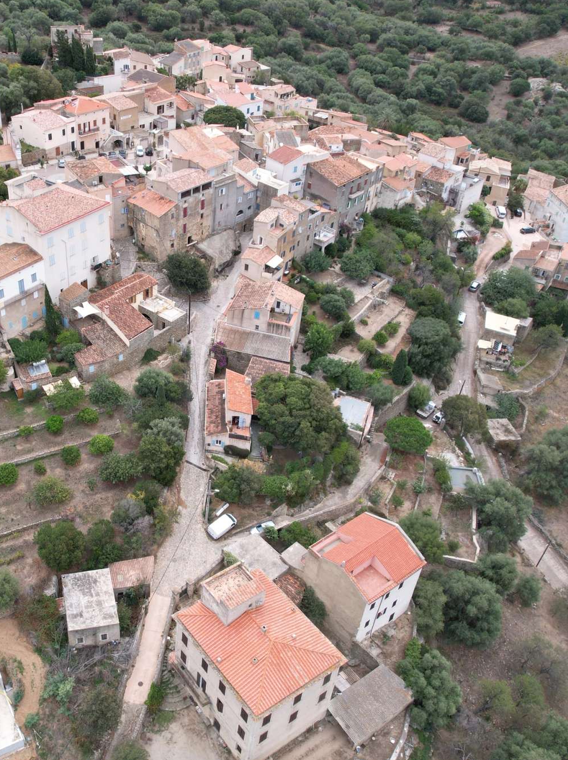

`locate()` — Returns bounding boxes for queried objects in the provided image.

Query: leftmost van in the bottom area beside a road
[211,513,239,543]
